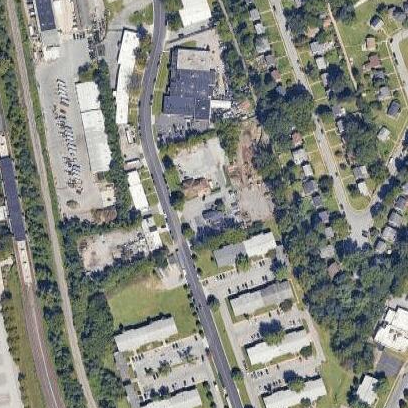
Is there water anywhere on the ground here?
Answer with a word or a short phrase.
No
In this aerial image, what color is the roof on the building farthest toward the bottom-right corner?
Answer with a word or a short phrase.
white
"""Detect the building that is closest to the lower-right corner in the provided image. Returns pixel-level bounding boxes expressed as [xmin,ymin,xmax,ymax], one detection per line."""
[357,376,378,406]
